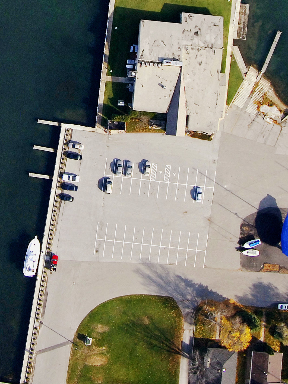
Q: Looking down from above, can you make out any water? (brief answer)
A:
Yes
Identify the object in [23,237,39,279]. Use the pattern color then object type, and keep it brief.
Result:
white boat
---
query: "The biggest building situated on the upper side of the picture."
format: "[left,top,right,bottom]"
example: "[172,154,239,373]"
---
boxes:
[130,12,227,136]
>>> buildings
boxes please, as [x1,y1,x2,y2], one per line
[130,12,227,136]
[248,352,283,384]
[203,348,238,384]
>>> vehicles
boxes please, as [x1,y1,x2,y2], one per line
[116,161,124,177]
[144,161,152,177]
[68,143,85,150]
[67,152,83,161]
[50,255,58,272]
[61,184,78,191]
[107,179,113,194]
[59,194,75,202]
[196,187,203,203]
[126,162,133,178]
[62,174,81,182]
